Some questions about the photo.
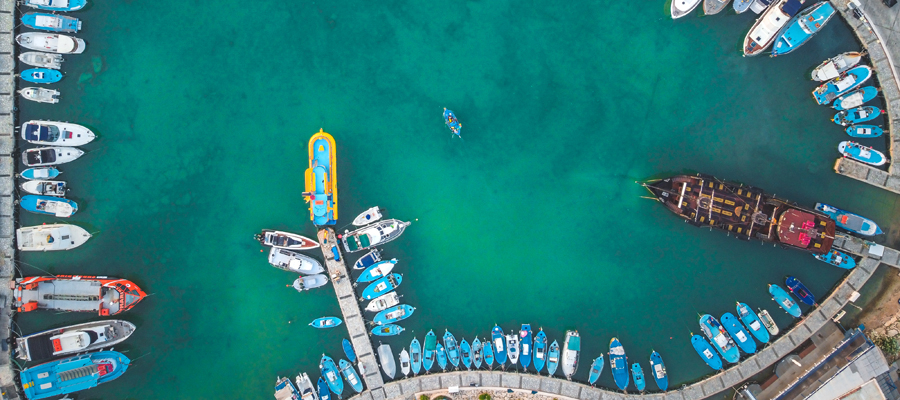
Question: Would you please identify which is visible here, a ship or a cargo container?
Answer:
ship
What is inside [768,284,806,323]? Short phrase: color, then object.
blue boat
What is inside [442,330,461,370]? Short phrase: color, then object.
blue boat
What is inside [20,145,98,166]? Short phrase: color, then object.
white boat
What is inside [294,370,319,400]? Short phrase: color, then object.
white boat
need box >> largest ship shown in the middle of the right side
[635,175,850,255]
